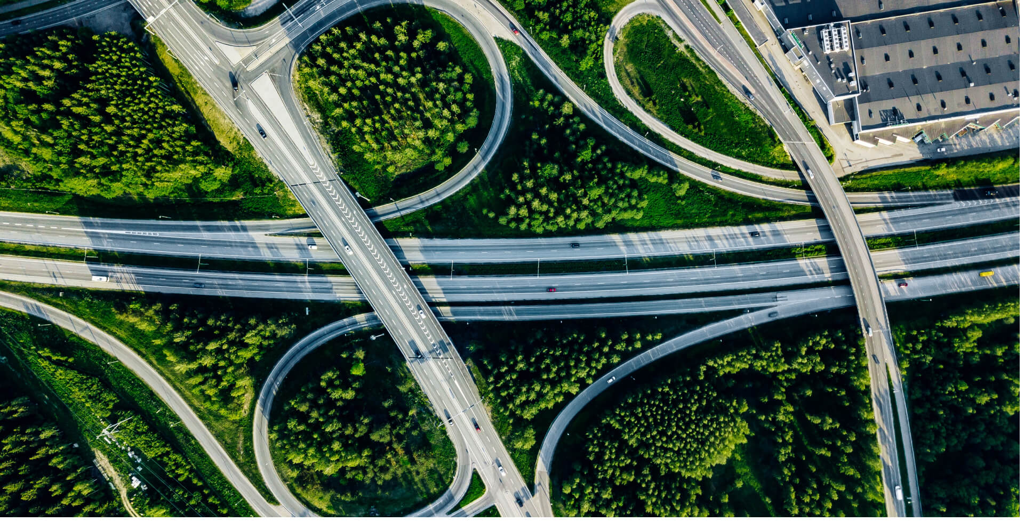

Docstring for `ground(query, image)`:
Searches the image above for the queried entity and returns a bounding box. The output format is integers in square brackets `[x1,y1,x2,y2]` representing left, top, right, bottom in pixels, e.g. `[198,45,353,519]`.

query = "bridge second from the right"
[286,176,462,362]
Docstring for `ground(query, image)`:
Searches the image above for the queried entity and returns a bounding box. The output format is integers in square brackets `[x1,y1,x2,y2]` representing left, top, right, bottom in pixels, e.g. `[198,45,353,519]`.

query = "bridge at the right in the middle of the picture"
[785,140,891,332]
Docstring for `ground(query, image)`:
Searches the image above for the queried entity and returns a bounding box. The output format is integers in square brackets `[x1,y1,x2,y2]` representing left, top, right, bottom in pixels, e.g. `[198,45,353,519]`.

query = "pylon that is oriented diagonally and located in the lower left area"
[94,427,141,457]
